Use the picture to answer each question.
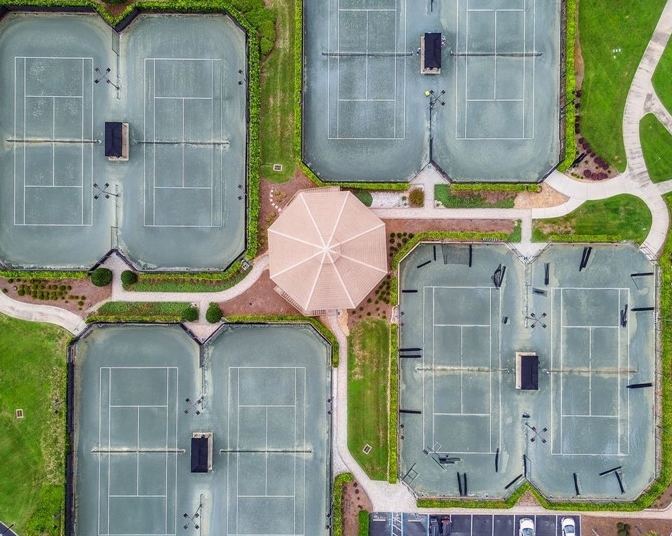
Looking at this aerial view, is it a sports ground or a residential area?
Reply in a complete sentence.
It's a sports ground.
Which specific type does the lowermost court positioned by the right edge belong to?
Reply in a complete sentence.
I'd say the lowermost court positioned by the right edge is a tennis court.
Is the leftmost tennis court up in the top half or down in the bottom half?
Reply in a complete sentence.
The top half of the photo is where the leftmost tennis court is.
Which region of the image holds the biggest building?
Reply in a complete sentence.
The biggest building is in the center part of the image.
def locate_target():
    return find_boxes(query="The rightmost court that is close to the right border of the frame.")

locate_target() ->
[526,244,655,500]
